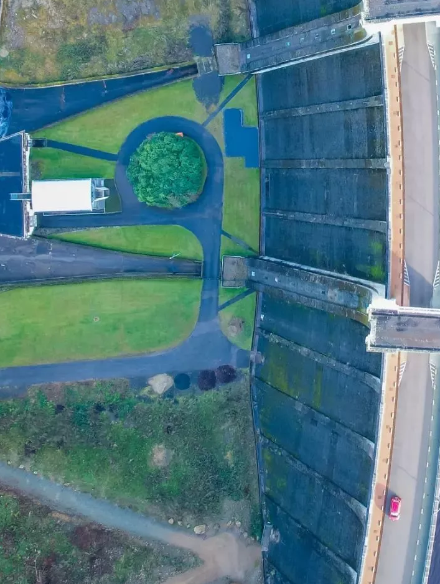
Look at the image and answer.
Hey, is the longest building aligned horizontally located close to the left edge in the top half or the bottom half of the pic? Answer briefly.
top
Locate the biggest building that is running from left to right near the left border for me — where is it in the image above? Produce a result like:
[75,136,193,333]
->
[12,178,116,213]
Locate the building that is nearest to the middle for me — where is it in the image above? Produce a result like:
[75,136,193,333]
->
[221,255,257,288]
